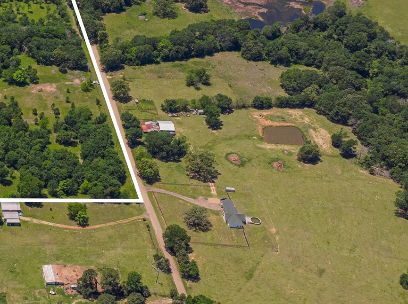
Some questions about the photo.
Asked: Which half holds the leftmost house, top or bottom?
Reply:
bottom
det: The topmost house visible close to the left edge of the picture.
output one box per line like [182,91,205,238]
[0,197,23,228]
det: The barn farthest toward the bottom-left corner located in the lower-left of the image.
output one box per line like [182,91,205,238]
[41,265,64,288]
